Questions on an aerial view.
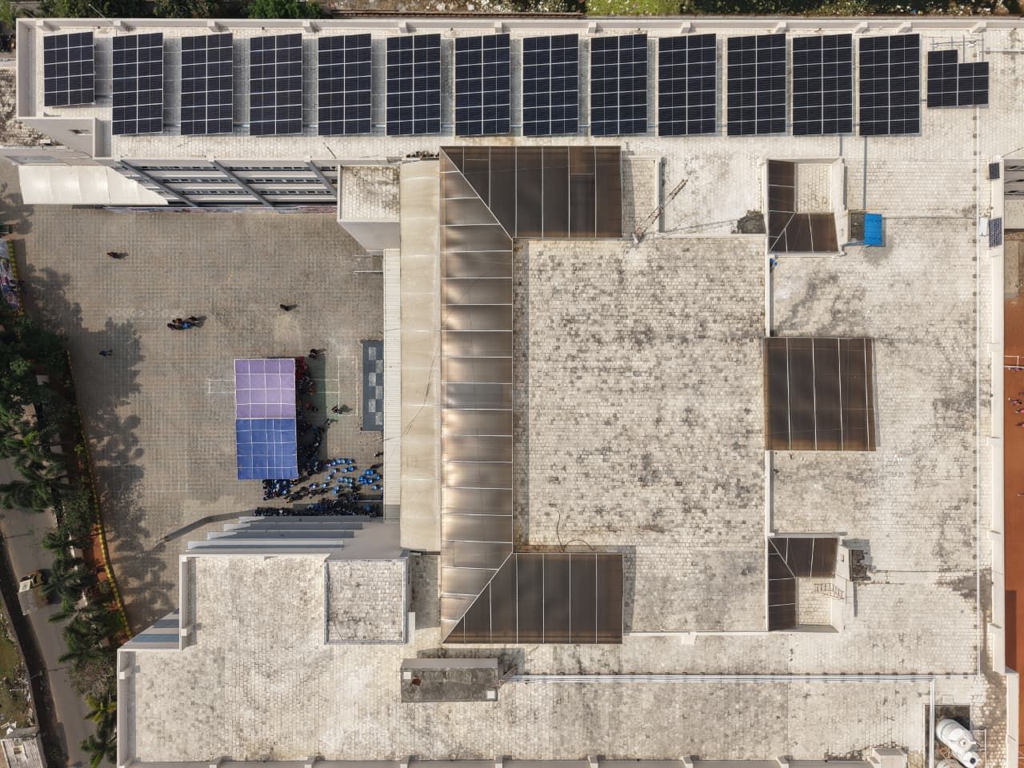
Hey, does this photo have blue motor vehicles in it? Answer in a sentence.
No, there isn't any blue motor vehicle down there.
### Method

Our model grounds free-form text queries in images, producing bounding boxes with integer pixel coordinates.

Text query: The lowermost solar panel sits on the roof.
[984,217,1002,247]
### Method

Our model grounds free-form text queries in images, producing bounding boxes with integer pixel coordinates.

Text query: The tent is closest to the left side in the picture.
[235,359,306,479]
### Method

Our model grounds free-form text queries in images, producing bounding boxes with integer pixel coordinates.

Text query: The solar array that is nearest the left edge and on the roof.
[45,32,103,111]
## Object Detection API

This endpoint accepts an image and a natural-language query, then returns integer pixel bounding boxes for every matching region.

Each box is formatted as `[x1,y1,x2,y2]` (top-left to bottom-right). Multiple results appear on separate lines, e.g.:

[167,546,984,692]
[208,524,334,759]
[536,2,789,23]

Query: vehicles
[24,575,53,619]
